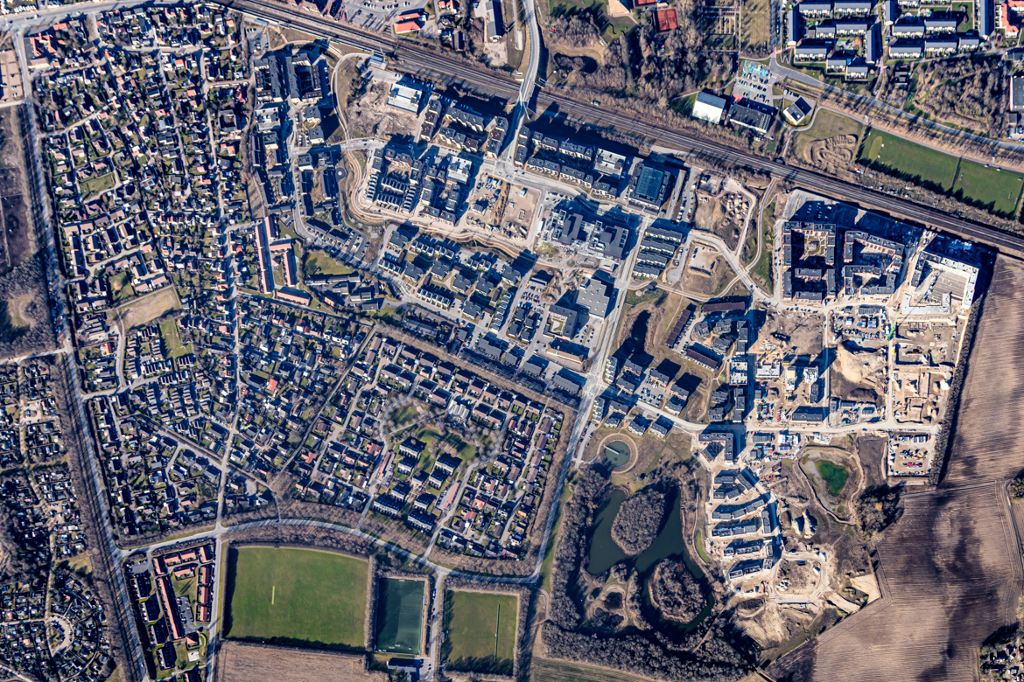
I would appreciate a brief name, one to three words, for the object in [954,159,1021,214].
soccer field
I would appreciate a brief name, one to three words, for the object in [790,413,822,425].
building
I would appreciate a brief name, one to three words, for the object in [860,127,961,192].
sports field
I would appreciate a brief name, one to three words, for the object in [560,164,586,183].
building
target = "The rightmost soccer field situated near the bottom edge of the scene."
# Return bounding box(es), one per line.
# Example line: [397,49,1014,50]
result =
[446,590,518,673]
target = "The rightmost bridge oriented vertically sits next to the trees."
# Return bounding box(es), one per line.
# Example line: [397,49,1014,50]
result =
[497,0,549,161]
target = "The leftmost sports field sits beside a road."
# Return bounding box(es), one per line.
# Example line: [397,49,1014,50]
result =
[225,546,369,649]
